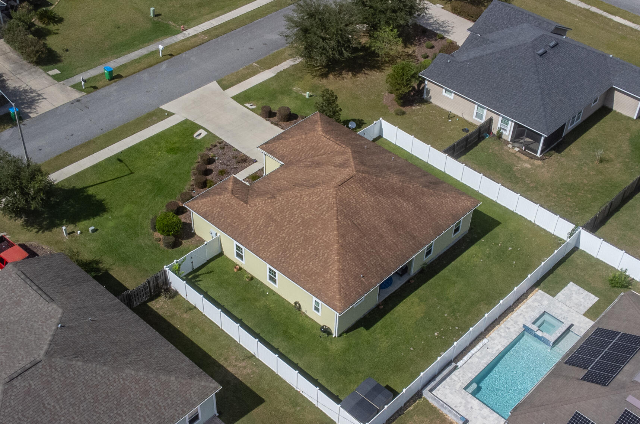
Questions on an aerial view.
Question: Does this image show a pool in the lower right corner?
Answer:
Yes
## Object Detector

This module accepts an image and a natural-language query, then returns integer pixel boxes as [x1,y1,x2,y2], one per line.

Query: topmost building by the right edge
[418,0,640,160]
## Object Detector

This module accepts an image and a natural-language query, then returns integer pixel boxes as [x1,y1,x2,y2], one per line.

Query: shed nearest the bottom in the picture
[341,378,393,424]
